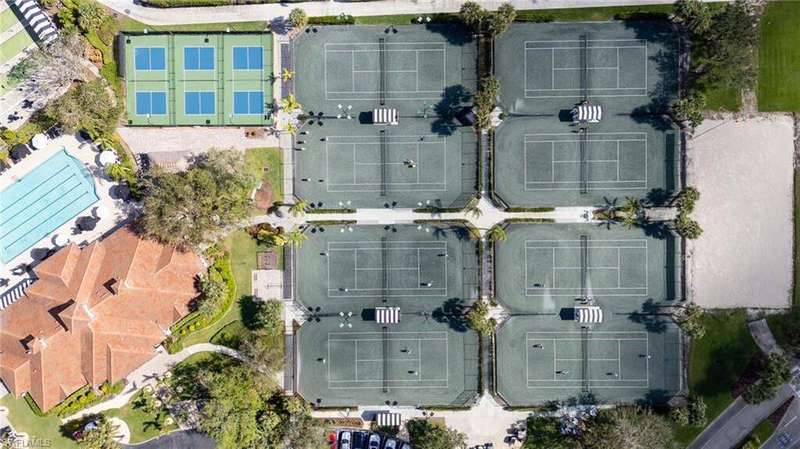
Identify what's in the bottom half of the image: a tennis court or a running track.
tennis court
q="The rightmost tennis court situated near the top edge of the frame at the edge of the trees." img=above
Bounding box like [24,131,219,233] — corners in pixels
[495,22,681,113]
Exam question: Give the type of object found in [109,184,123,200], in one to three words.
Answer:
umbrella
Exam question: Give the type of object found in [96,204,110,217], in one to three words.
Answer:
umbrella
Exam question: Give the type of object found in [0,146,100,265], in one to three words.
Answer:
swimming pool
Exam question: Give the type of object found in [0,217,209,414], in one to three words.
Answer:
building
